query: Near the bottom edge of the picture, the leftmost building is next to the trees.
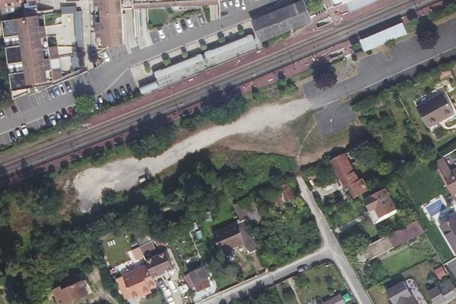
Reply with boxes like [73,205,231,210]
[53,280,91,304]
